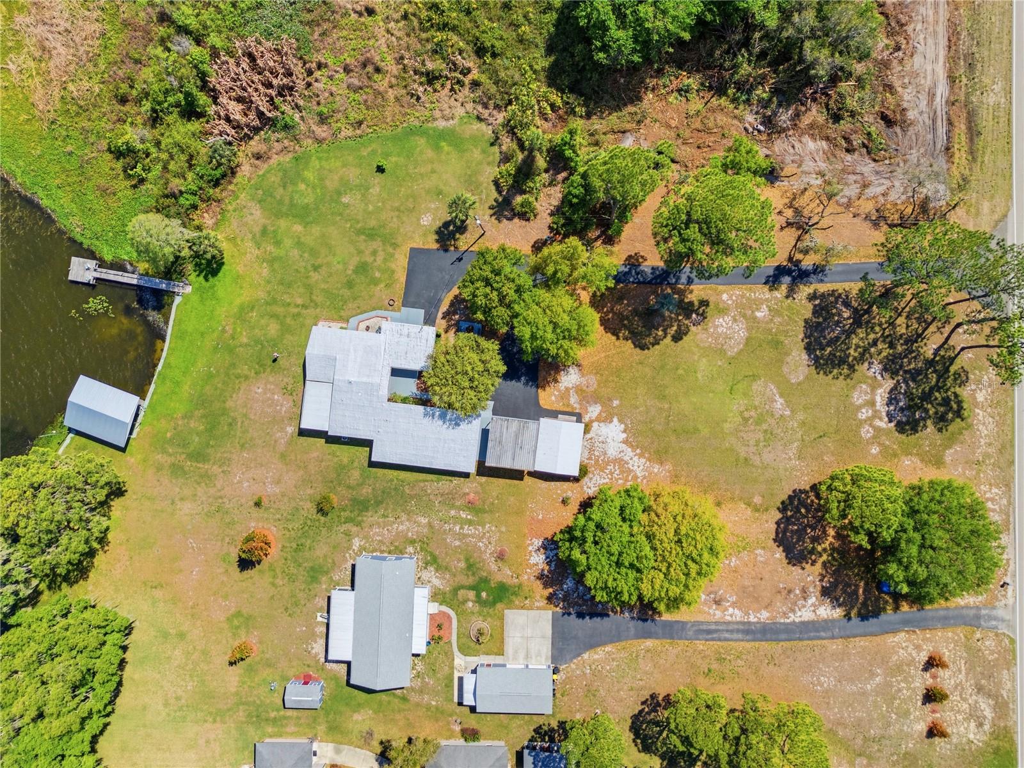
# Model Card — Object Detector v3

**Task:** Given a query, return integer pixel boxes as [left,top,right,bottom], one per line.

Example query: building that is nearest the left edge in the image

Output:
[63,375,147,448]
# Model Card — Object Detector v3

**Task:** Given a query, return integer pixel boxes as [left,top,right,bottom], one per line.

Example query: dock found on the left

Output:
[68,257,191,296]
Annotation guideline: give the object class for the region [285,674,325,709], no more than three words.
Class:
shed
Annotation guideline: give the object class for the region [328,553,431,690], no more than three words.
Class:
house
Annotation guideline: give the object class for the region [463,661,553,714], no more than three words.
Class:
building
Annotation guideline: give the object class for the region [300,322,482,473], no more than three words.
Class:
house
